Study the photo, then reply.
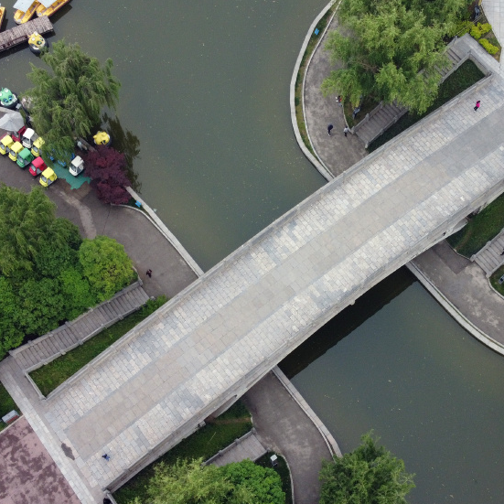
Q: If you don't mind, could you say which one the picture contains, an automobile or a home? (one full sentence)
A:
There is an automobile in the scene.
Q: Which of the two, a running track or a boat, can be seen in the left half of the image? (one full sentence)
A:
The feature located in the left half of the image is a boat.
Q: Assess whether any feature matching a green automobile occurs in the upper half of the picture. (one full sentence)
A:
Yes, a green automobile can be seen in the upper half of the picture.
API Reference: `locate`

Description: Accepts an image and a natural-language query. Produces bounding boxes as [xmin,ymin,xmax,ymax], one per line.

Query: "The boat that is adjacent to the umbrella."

[0,91,18,109]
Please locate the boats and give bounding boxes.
[38,0,72,18]
[0,91,18,109]
[91,133,112,151]
[13,0,43,24]
[26,36,48,56]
